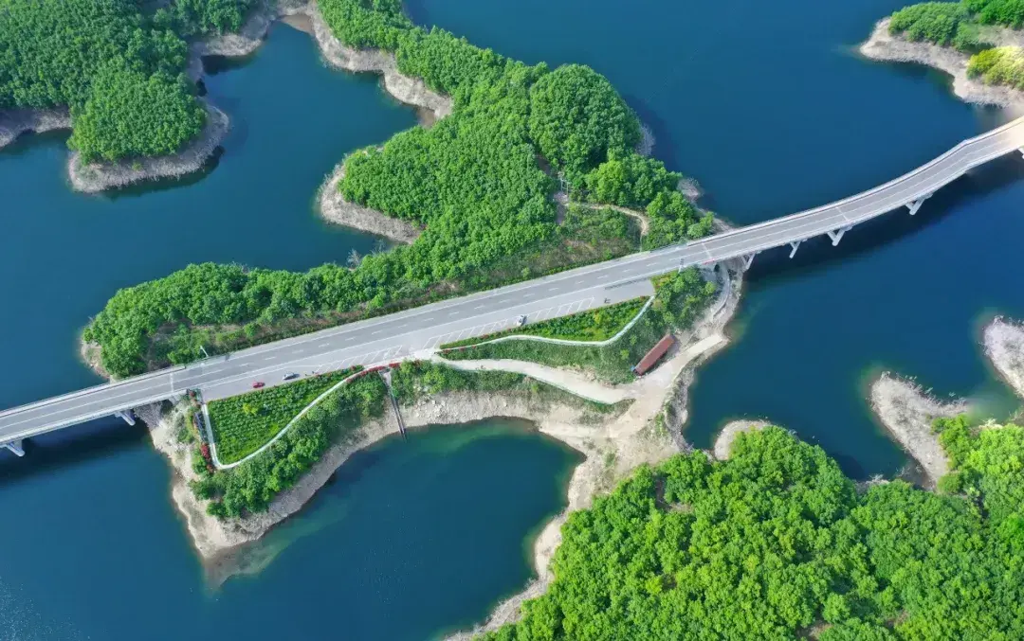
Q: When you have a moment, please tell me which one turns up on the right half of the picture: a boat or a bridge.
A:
bridge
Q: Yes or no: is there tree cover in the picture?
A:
Yes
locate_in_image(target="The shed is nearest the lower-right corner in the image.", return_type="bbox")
[635,335,677,378]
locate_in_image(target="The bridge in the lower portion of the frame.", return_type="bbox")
[0,361,195,457]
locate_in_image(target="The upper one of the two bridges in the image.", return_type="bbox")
[684,115,1024,273]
